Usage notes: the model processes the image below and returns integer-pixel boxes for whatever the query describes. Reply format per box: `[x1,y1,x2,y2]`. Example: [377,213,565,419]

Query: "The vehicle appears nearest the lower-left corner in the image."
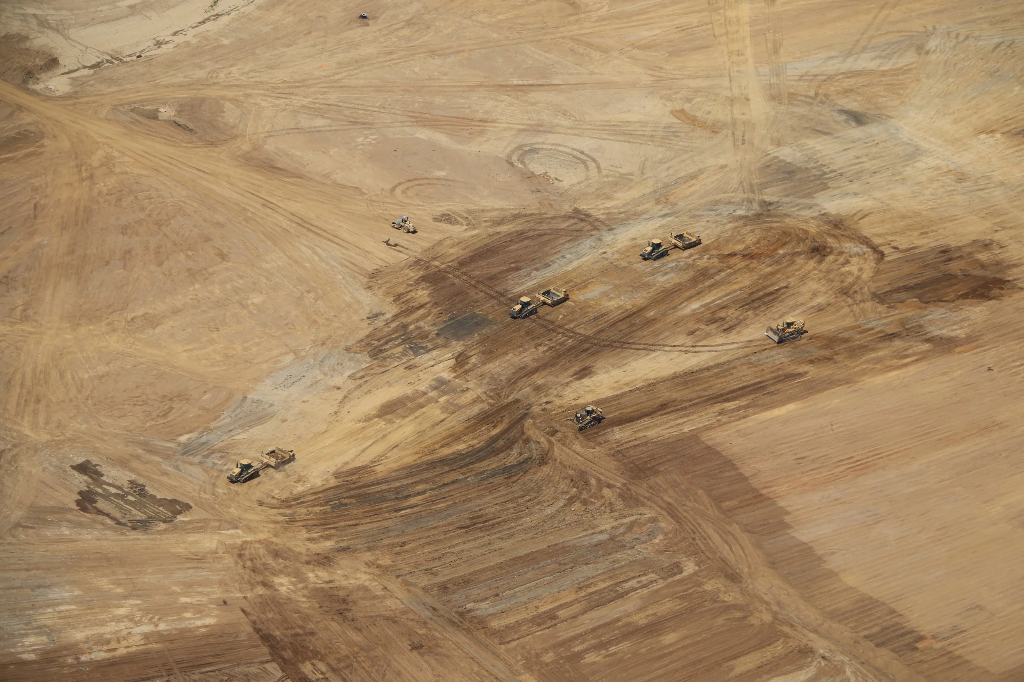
[228,458,260,483]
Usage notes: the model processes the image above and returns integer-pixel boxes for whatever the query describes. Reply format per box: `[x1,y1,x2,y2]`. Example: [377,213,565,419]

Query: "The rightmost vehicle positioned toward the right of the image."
[765,318,804,345]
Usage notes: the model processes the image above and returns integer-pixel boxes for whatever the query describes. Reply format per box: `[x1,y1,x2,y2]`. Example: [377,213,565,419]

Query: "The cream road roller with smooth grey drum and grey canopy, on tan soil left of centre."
[391,215,415,233]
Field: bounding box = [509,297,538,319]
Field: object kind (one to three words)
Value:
work vehicle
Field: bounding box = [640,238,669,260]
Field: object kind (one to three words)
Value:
work vehicle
